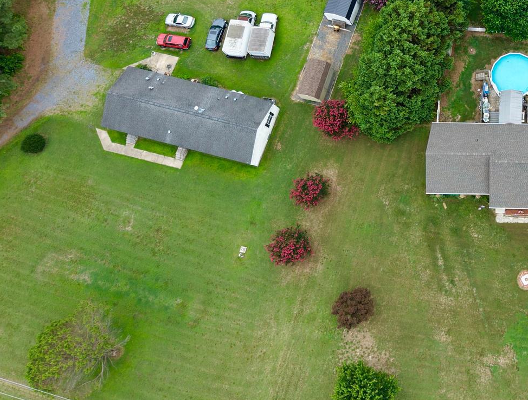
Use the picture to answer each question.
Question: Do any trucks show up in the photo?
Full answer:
Yes, a truck can be made out from above.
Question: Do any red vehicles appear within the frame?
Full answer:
Yes, this view includes a red vehicle.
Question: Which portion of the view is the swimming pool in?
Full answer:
Look in the top right portion of the view to spot the swimming pool.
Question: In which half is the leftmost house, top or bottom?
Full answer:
You can find the leftmost house in the top half.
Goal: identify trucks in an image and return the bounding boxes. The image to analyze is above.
[249,13,280,64]
[224,11,257,63]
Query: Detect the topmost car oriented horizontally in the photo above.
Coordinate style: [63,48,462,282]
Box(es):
[164,12,198,30]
